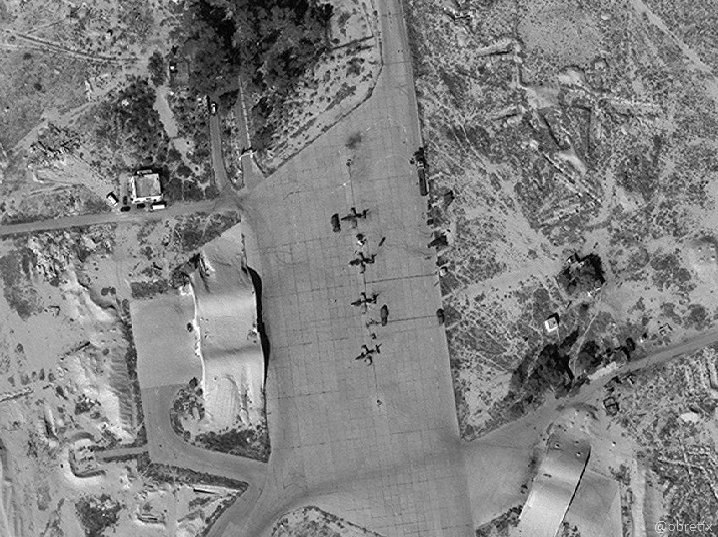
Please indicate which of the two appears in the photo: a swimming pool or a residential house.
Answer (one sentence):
Visible in the photo is a residential house.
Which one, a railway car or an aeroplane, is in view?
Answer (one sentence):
The image shows an aeroplane.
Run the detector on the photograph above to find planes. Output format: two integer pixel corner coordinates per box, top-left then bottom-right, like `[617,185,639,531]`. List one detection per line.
[356,344,381,365]
[341,207,368,228]
[350,251,377,272]
[351,291,378,313]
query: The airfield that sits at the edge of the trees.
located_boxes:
[97,0,621,537]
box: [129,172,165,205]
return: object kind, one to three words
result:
house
